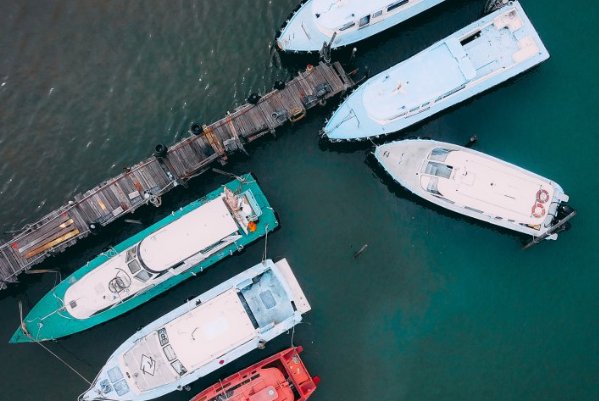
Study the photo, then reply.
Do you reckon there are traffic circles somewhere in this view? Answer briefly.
No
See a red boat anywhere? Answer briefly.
Yes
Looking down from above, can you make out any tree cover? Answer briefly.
No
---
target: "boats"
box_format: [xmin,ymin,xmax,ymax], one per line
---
[321,2,552,142]
[275,0,474,53]
[72,259,310,401]
[376,140,572,242]
[7,174,279,345]
[188,345,318,401]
